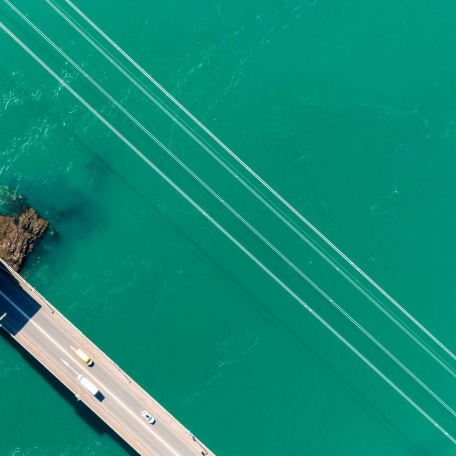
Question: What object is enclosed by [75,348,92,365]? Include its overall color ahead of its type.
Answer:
white vehicle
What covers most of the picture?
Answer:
water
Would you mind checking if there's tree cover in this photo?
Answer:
No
